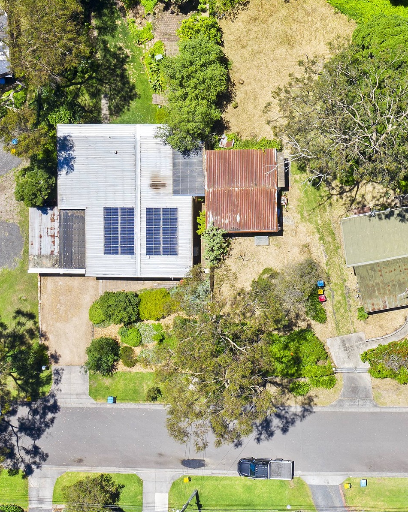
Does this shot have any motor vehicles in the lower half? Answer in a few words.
Yes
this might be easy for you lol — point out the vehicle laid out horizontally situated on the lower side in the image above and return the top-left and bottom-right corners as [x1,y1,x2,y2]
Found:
[234,456,293,481]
